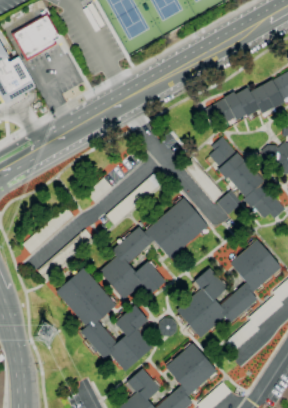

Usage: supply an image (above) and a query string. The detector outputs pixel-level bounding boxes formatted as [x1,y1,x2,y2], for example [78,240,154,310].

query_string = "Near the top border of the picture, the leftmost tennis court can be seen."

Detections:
[108,0,148,40]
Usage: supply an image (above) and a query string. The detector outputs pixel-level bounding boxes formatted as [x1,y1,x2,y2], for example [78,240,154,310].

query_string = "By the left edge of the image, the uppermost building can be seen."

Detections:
[12,12,58,60]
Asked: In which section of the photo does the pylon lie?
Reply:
bottom left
